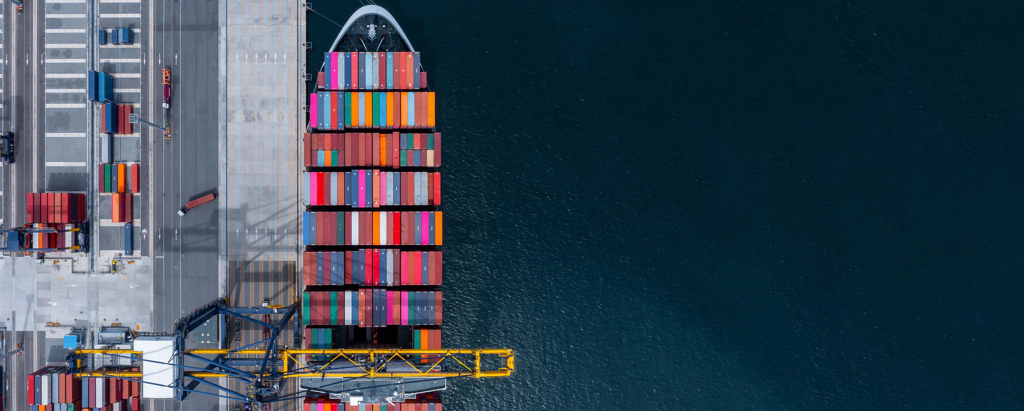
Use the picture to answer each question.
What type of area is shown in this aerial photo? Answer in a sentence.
This image shows a port.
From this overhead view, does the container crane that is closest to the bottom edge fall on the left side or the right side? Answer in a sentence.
It is on the left.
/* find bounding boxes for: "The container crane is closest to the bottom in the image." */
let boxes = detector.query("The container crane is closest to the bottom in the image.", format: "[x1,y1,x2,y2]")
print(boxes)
[66,285,519,411]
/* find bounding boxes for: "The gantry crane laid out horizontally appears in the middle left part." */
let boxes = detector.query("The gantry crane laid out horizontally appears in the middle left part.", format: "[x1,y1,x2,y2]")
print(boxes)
[0,221,92,254]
